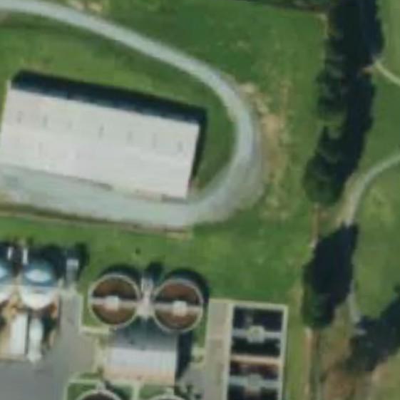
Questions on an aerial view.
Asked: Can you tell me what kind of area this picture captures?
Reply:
industrial area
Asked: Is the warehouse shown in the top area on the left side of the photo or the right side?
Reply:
left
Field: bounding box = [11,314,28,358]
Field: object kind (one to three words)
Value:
shed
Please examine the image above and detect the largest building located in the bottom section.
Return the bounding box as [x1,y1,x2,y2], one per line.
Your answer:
[106,328,178,380]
